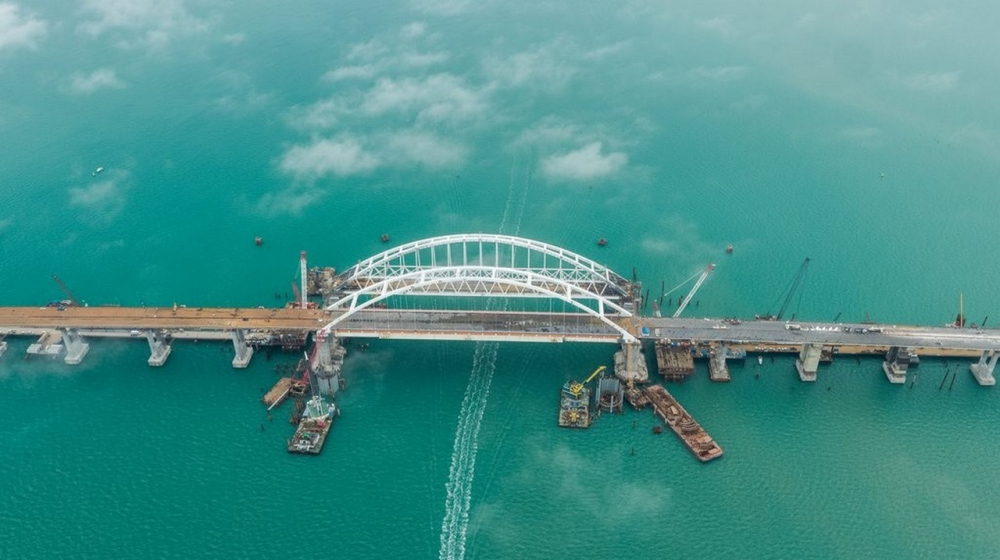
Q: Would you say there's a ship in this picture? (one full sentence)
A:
Yes, there's a ship here.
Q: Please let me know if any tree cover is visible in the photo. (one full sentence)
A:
No, there's no tree cover in this view.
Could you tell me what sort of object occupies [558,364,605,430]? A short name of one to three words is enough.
ship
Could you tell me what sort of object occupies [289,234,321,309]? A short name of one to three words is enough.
ship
